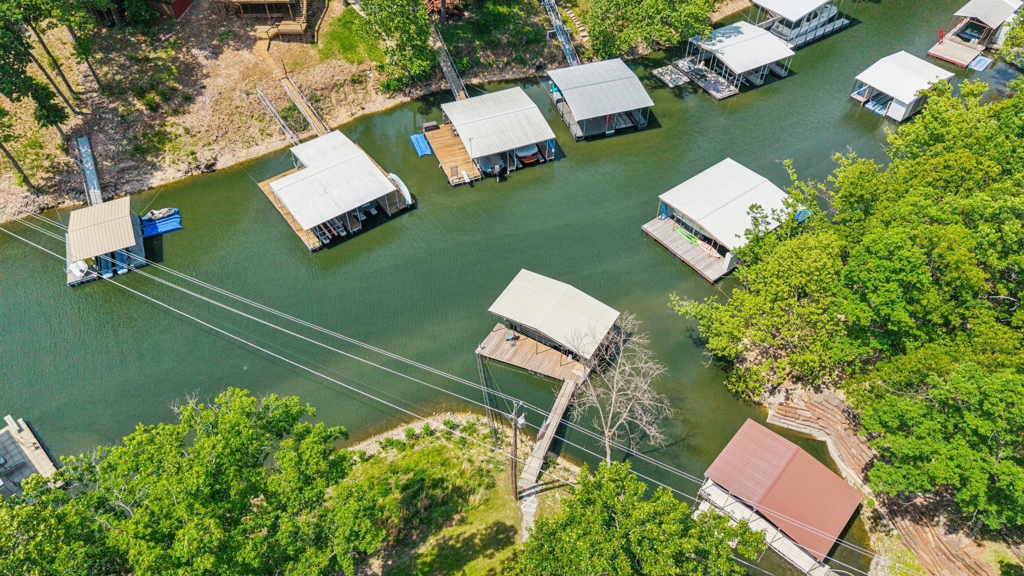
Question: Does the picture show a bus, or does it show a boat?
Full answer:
This aerial view contains a boat.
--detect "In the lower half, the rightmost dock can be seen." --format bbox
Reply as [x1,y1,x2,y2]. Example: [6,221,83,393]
[697,418,864,576]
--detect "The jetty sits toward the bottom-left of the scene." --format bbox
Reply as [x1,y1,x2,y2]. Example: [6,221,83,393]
[0,413,69,516]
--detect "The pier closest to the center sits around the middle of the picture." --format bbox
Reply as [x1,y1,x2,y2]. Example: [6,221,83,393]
[475,269,620,399]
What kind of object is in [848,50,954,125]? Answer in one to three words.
pier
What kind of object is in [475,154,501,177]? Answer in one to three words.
boat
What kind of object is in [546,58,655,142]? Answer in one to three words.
pier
